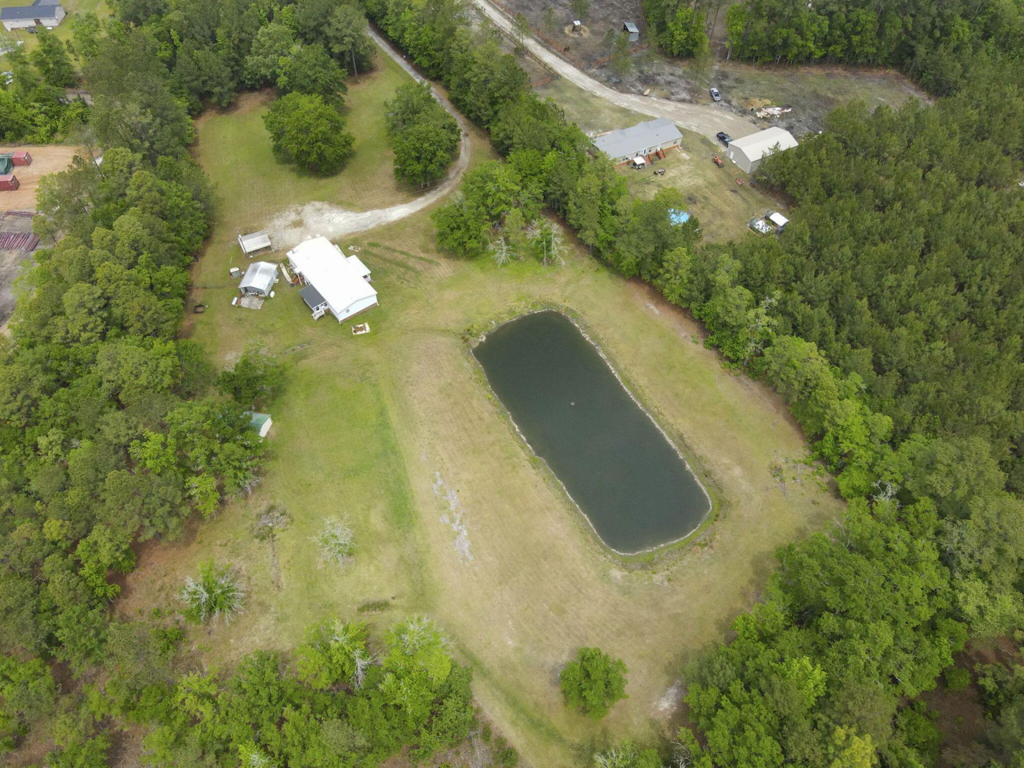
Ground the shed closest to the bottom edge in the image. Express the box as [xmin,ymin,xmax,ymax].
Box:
[244,407,273,437]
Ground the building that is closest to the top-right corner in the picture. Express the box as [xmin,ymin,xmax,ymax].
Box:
[724,126,805,174]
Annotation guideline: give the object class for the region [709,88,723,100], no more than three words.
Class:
vehicle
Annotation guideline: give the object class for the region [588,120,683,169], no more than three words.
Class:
house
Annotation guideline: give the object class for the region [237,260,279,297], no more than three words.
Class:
building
